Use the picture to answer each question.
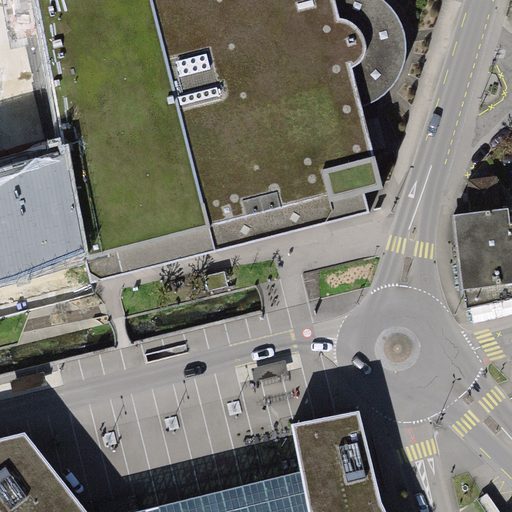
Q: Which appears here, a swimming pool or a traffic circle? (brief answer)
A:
traffic circle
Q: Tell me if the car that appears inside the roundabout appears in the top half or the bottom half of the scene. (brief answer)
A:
bottom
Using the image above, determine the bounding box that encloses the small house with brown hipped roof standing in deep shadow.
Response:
[458,165,504,212]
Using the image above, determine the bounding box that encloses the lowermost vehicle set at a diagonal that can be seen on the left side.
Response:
[64,469,84,493]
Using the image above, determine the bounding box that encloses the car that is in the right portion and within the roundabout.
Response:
[352,356,372,375]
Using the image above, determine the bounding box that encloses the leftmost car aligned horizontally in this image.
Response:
[184,362,207,376]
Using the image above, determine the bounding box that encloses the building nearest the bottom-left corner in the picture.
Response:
[0,432,89,512]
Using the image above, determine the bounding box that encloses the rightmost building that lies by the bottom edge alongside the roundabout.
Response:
[292,410,386,512]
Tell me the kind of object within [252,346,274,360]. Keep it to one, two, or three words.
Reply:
vehicle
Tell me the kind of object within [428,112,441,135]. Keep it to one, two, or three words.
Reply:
vehicle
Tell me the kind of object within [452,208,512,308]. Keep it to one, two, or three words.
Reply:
building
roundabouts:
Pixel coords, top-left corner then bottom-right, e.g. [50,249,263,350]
[334,284,483,424]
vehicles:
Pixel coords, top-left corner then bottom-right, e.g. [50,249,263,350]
[489,126,510,147]
[184,362,207,376]
[64,469,84,493]
[310,340,333,352]
[428,112,441,135]
[471,142,492,163]
[252,346,274,360]
[414,493,430,512]
[352,356,372,375]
